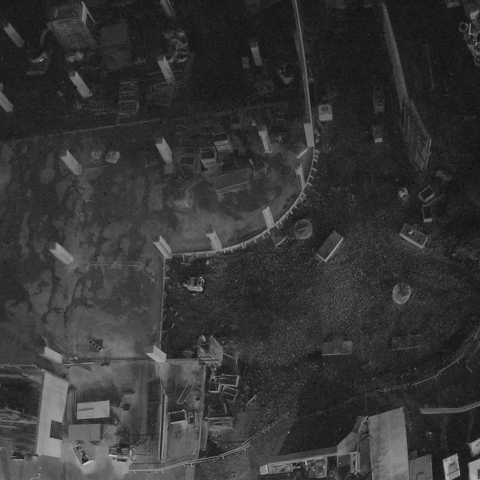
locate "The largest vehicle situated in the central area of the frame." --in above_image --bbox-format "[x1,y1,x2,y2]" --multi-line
[182,276,206,292]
